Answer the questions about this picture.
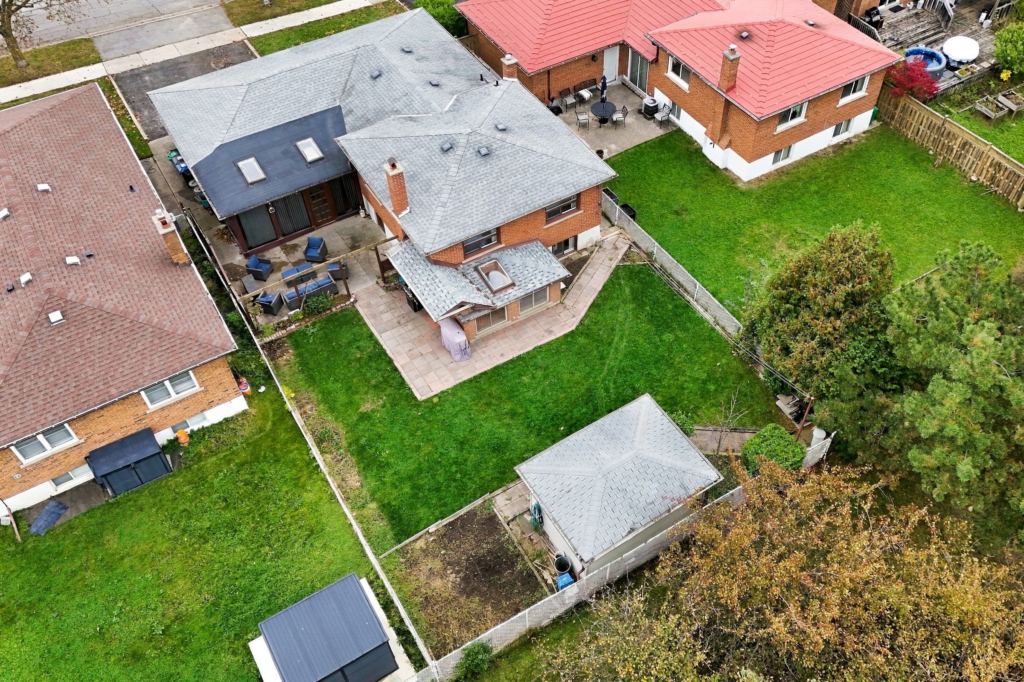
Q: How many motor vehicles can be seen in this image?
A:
0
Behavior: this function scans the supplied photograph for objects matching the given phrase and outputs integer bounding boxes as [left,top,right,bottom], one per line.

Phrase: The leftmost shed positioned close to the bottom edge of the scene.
[255,569,398,682]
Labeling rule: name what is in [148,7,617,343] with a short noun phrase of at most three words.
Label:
house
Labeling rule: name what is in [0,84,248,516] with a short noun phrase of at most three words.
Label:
house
